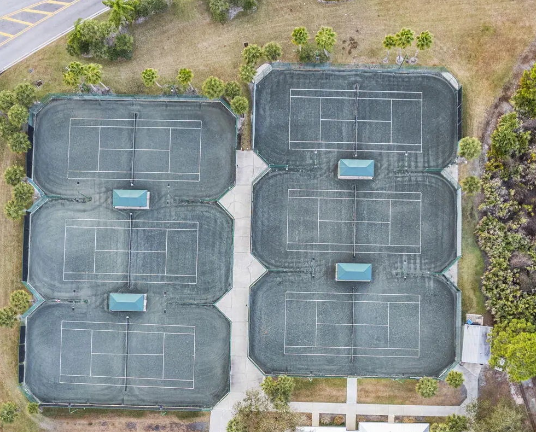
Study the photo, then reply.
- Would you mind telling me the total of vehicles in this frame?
none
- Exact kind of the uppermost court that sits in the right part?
tennis court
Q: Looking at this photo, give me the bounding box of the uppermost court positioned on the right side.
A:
[254,68,457,172]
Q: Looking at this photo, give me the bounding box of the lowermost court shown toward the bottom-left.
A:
[25,301,231,408]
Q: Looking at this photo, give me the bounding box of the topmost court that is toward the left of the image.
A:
[34,100,236,200]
